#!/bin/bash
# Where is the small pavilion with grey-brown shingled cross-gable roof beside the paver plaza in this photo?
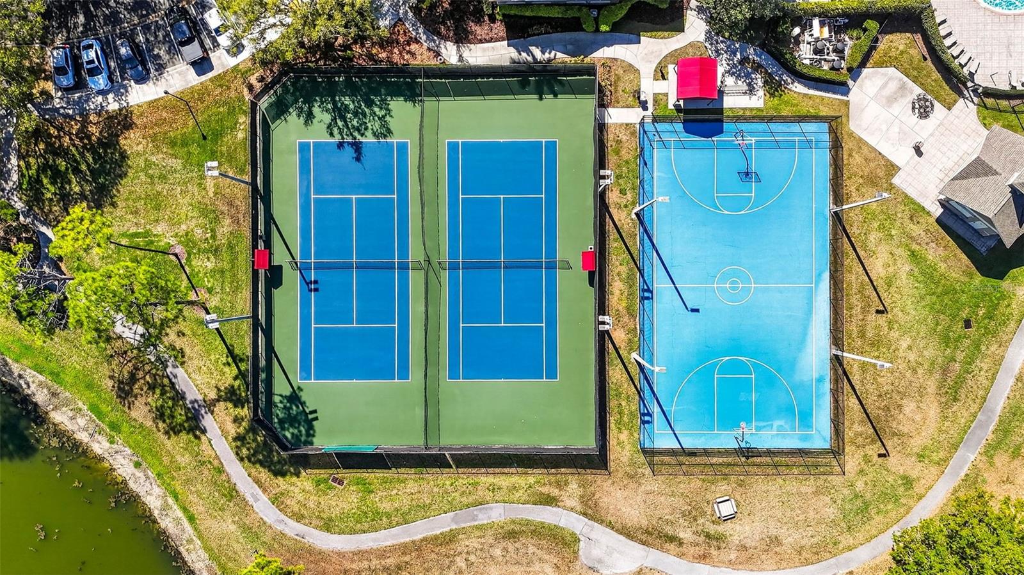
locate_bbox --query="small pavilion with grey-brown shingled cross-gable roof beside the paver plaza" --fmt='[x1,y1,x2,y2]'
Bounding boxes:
[926,123,1024,248]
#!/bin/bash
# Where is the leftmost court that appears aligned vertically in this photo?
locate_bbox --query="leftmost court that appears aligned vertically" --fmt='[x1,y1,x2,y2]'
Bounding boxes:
[260,75,426,446]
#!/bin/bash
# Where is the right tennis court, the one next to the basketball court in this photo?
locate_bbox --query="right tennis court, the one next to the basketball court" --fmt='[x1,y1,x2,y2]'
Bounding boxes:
[426,75,594,446]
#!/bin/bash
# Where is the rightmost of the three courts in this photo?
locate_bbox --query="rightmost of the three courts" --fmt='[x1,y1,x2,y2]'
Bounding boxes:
[641,122,830,449]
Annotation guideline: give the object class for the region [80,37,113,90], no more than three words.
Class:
car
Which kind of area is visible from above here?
sports ground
